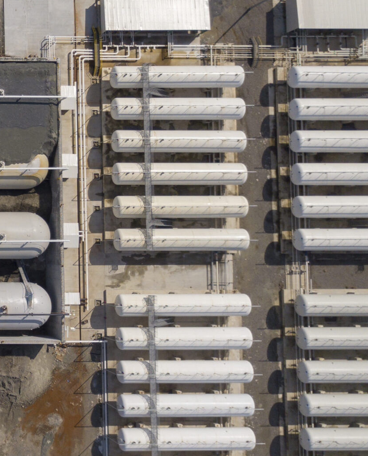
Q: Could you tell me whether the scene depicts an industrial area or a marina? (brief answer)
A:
industrial area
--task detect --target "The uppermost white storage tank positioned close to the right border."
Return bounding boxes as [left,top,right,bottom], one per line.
[285,65,368,94]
